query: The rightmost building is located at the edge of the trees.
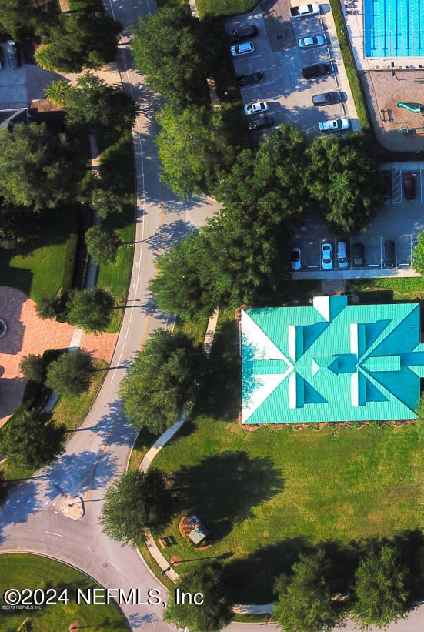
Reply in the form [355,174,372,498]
[240,293,424,425]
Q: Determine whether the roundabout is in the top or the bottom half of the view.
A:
bottom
